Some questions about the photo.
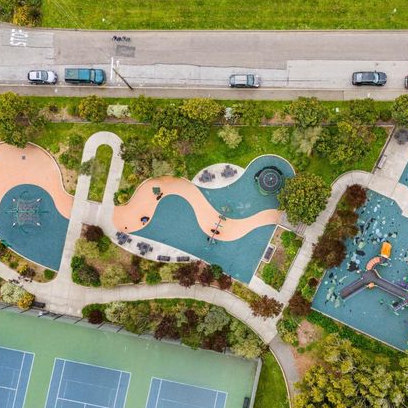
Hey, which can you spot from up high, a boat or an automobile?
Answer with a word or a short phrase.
automobile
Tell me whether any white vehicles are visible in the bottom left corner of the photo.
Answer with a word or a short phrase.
No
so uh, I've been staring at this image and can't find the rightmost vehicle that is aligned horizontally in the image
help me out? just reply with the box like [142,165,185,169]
[352,70,388,87]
